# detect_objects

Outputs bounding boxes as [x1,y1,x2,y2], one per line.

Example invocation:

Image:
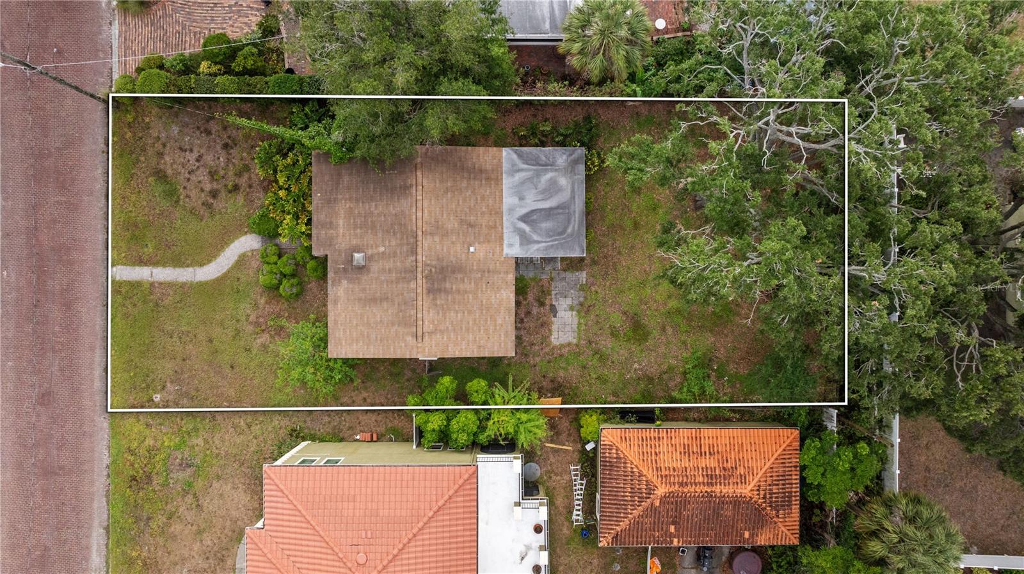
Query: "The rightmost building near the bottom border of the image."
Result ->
[595,422,800,547]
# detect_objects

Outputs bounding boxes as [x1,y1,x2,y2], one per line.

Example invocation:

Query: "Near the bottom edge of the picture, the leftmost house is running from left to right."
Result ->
[244,442,549,574]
